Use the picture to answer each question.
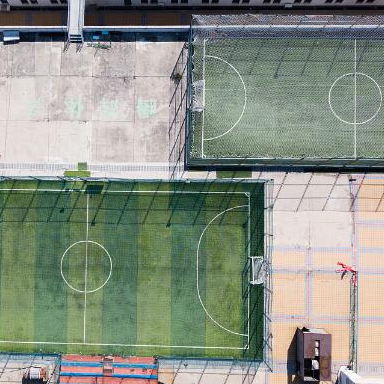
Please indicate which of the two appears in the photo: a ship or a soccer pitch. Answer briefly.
soccer pitch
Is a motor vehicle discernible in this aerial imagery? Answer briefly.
No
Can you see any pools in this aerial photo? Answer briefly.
No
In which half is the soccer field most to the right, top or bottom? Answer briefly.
top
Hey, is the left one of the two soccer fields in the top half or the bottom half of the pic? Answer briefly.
bottom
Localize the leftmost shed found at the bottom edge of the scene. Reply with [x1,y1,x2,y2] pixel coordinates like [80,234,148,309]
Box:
[297,327,332,382]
